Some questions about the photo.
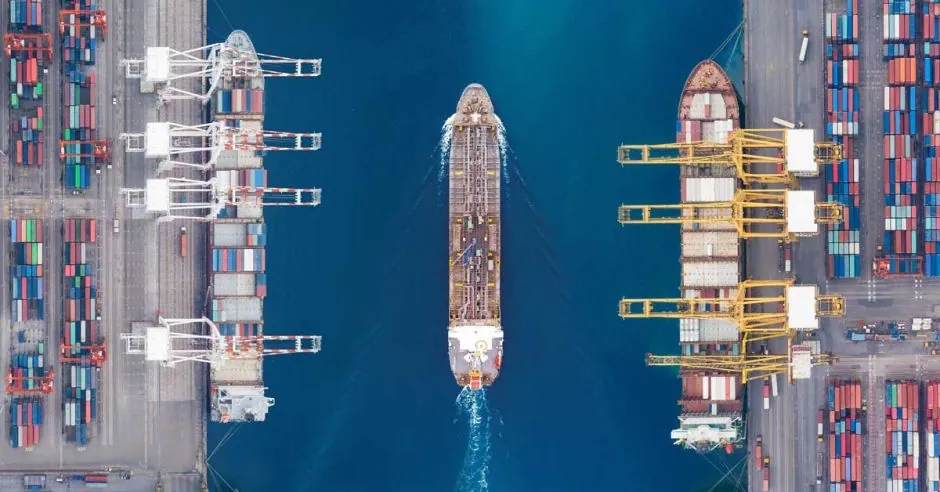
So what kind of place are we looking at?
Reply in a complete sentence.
The area seen from above is a port.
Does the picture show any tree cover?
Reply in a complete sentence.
No, the scene doesn't show any tree cover.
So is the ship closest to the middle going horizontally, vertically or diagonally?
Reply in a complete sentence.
The ship closest to the middle is oriented vertically.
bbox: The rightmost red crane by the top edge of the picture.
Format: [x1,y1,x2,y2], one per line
[60,7,114,41]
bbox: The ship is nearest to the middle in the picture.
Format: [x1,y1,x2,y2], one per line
[448,82,503,390]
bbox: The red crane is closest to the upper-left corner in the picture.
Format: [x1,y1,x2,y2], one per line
[4,31,59,64]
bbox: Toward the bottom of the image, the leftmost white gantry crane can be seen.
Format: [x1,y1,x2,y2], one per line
[127,311,322,363]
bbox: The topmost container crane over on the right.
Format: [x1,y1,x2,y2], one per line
[618,129,844,188]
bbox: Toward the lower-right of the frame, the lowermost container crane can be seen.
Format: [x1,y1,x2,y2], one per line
[646,330,841,387]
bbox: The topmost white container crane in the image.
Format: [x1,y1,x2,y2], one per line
[127,47,322,106]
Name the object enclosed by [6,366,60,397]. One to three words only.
container crane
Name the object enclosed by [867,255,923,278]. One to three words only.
container crane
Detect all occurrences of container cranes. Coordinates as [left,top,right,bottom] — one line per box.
[646,330,841,387]
[618,185,844,246]
[867,255,923,278]
[4,31,59,64]
[618,274,844,334]
[127,122,322,174]
[127,175,322,226]
[127,311,322,363]
[59,136,114,163]
[618,129,844,188]
[60,7,114,41]
[127,47,322,106]
[6,366,60,397]
[60,338,112,366]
